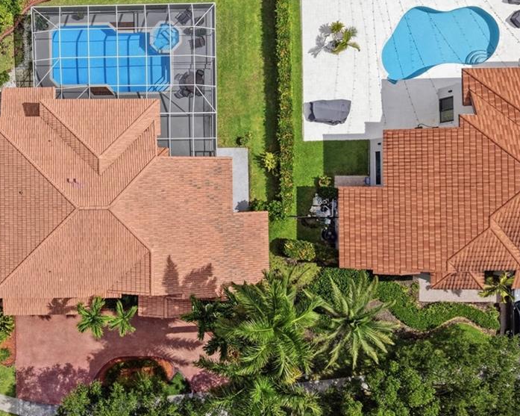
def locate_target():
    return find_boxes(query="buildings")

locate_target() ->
[0,88,269,319]
[333,67,520,291]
